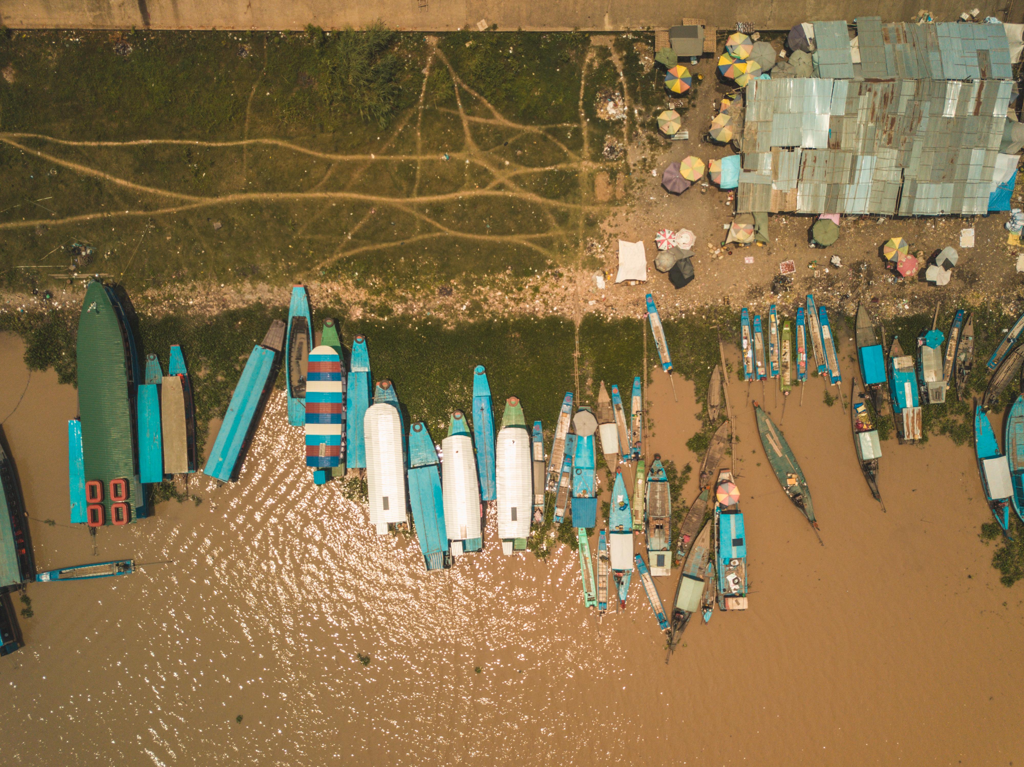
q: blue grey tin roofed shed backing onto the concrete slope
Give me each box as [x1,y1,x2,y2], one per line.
[811,16,1012,86]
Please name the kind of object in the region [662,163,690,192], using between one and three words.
umbrella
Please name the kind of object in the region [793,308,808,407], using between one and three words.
boat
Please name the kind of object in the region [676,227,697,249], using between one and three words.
umbrella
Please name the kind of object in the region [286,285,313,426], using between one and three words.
ship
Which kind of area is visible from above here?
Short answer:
port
